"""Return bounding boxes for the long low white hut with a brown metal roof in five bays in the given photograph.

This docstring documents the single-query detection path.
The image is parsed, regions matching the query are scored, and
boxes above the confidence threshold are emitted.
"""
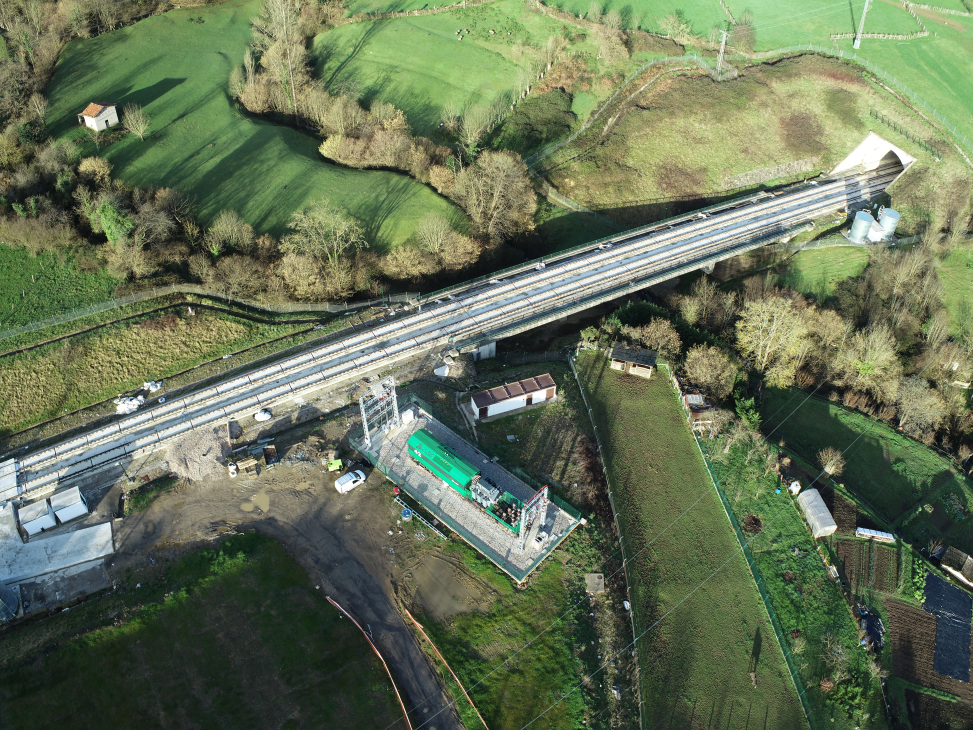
[470,370,562,417]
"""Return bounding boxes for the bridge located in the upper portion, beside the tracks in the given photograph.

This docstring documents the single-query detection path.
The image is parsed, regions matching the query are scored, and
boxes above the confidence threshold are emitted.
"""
[401,192,809,361]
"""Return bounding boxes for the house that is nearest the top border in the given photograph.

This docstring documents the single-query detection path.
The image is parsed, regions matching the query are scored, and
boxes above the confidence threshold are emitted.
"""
[69,94,119,131]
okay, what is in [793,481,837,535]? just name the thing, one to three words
greenhouse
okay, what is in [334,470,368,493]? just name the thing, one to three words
vehicle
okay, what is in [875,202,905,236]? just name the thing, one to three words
storage tank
